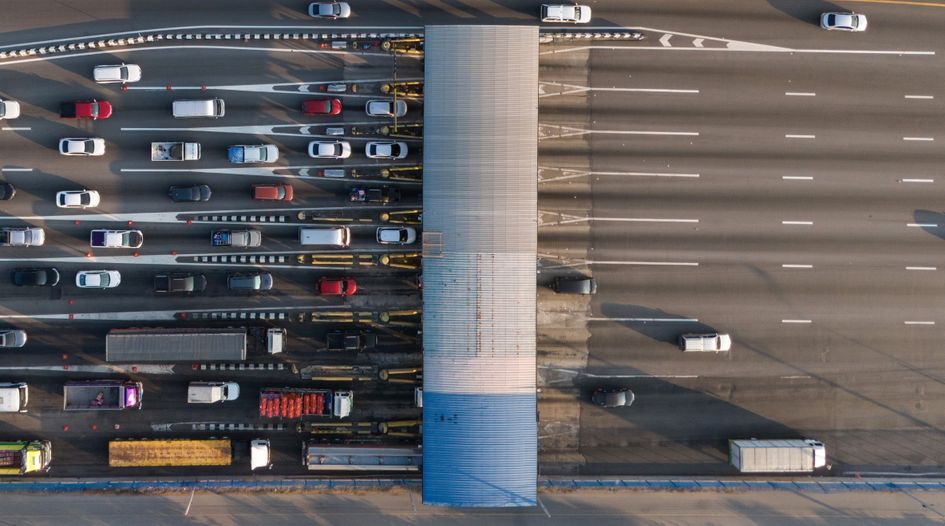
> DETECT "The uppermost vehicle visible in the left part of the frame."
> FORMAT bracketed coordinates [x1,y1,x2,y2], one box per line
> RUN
[309,0,351,21]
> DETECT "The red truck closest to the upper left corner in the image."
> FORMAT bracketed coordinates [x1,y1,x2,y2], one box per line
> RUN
[61,98,114,120]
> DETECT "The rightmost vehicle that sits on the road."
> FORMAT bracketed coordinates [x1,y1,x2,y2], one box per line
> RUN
[819,10,866,33]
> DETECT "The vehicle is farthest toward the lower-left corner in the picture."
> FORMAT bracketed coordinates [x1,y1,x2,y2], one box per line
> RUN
[0,439,59,472]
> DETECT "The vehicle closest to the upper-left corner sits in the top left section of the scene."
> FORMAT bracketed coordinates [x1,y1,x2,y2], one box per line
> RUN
[0,98,22,119]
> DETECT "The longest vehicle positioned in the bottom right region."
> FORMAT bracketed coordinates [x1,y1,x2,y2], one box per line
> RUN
[727,438,830,472]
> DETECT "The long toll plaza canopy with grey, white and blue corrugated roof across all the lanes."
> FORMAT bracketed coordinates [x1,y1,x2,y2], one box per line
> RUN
[422,24,539,507]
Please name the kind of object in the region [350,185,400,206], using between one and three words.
truck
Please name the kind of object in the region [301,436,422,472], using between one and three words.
trailer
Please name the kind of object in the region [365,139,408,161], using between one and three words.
car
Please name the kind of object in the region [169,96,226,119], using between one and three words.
vehicle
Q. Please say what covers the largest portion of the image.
paved ground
